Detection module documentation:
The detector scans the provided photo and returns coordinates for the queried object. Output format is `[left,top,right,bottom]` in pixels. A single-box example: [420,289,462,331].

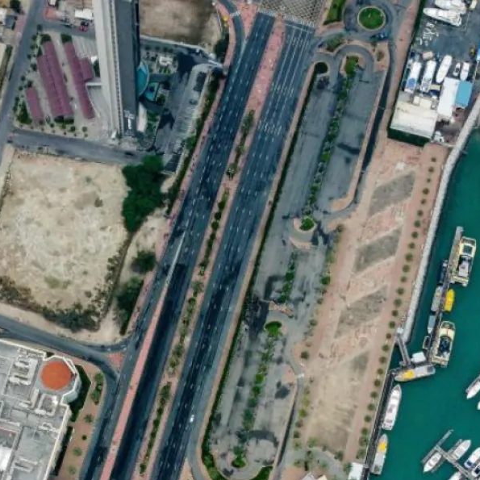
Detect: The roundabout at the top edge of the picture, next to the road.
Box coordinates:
[345,0,399,41]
